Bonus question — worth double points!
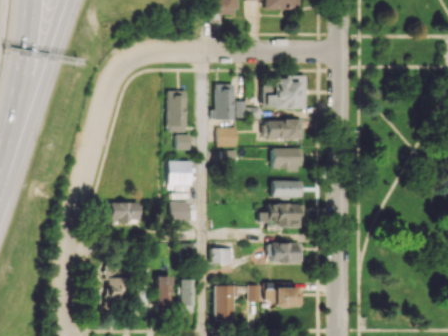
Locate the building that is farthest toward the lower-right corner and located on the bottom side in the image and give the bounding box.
[277,288,303,309]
